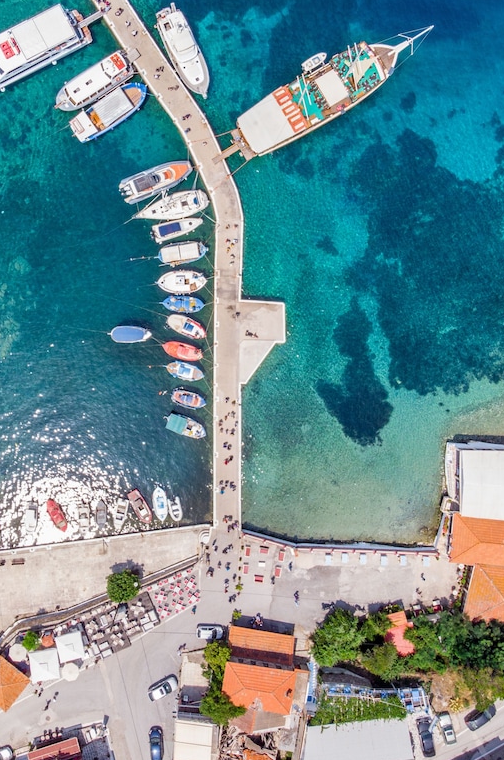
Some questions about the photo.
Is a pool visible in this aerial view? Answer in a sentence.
No, no pool can be seen from above.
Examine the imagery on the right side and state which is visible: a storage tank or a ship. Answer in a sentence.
Looking on the right side, you will find a ship.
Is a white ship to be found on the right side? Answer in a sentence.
Yes, the scene does show a white ship on the right side.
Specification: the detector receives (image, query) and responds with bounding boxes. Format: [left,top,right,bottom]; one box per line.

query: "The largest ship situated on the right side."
[231,25,434,160]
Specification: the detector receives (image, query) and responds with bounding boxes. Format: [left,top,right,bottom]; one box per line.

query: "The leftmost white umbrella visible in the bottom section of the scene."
[10,642,27,659]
